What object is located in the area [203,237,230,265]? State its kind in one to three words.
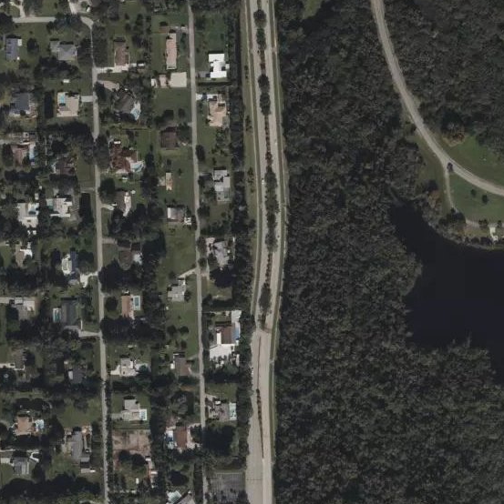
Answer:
house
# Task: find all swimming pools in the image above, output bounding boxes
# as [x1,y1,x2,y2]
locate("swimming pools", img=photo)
[53,308,61,324]
[29,143,35,160]
[234,321,240,341]
[29,203,38,216]
[230,404,237,421]
[133,296,141,311]
[35,420,44,432]
[135,363,151,373]
[58,92,64,110]
[166,437,174,448]
[130,101,141,120]
[130,159,145,173]
[168,491,180,504]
